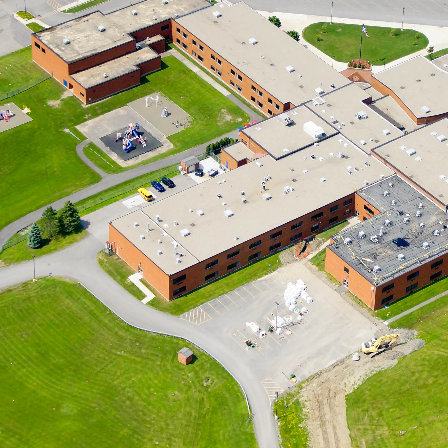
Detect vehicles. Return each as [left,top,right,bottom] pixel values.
[136,187,154,200]
[358,330,404,359]
[159,175,177,187]
[150,181,166,192]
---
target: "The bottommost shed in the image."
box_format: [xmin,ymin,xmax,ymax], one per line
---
[174,345,196,366]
